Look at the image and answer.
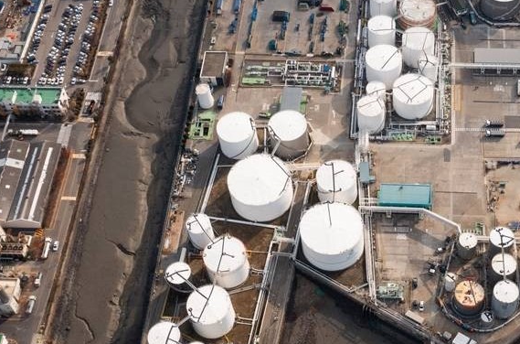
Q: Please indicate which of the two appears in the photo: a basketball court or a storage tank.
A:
storage tank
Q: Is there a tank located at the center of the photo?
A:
Yes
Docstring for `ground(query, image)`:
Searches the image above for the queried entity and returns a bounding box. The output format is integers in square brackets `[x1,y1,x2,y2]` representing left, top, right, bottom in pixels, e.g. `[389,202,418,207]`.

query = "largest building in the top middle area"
[200,51,229,86]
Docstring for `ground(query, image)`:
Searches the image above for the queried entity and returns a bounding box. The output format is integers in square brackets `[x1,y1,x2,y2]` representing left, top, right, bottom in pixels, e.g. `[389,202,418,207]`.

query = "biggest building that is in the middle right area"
[378,184,431,211]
